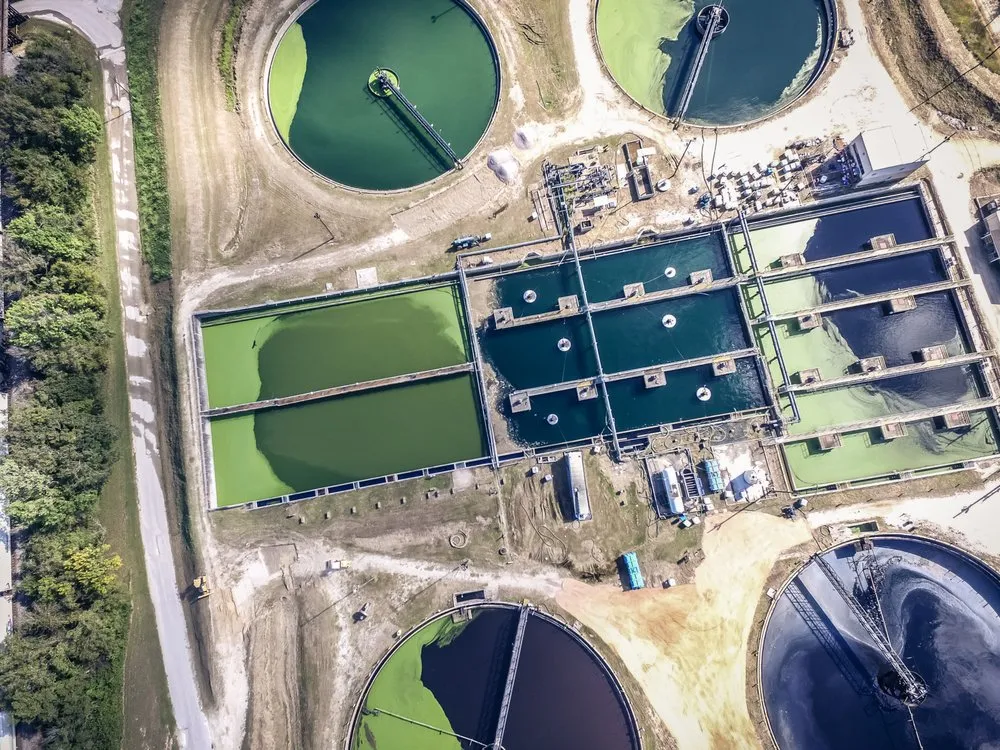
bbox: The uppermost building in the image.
[847,122,930,184]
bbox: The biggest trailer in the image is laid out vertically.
[567,451,593,520]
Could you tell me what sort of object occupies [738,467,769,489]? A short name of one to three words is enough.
silo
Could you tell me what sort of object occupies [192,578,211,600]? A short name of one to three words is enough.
work vehicle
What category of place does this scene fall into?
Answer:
industrial area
